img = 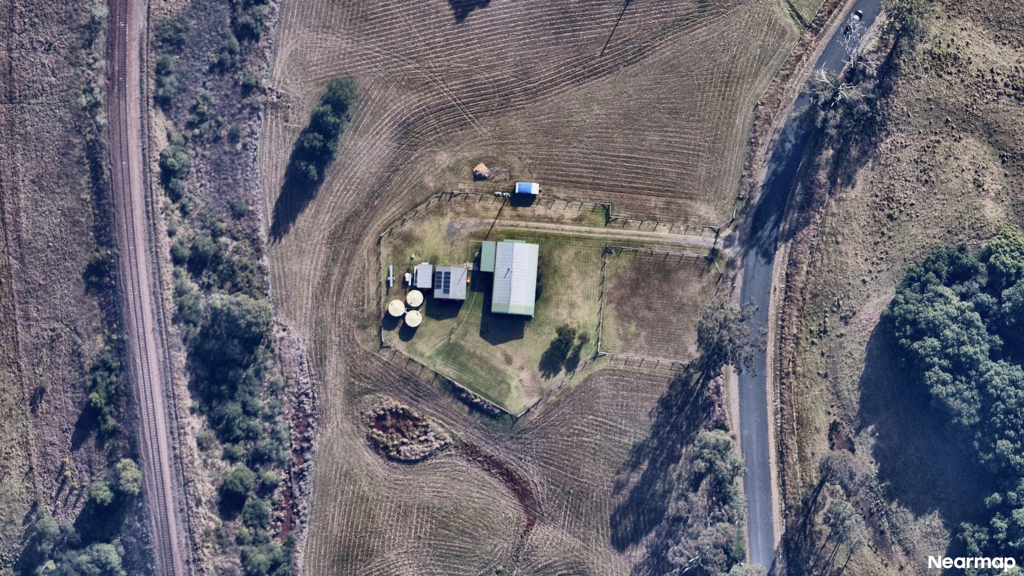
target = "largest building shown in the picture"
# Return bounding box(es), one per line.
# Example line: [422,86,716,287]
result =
[480,239,543,318]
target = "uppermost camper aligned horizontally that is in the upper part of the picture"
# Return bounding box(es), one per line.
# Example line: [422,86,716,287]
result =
[516,182,543,195]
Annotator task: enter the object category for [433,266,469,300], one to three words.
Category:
shed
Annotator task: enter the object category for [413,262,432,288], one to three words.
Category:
shed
